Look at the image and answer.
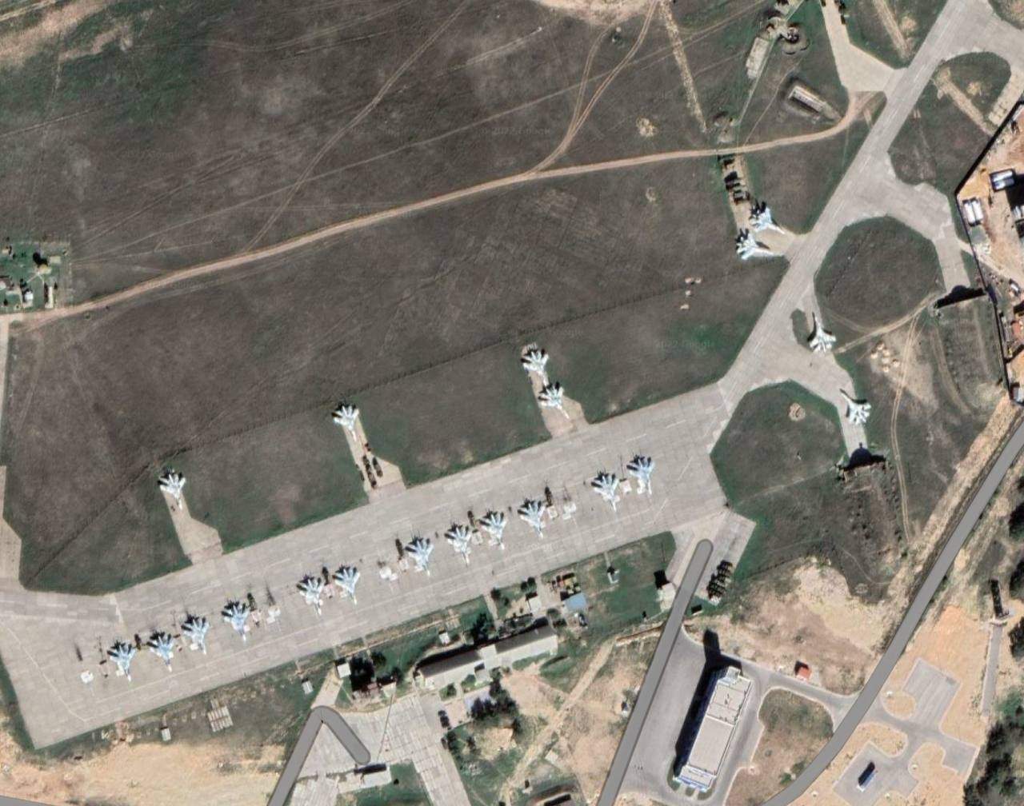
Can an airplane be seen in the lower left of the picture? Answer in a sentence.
Yes, the scene does show an airplane in the lower left of the picture.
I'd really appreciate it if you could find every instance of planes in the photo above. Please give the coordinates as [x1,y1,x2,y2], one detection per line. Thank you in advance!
[523,346,547,386]
[335,565,360,604]
[740,234,776,259]
[483,510,507,549]
[812,318,836,356]
[541,382,569,418]
[408,536,433,577]
[594,472,619,511]
[109,641,135,682]
[446,524,471,564]
[750,207,784,233]
[334,402,359,441]
[160,469,185,510]
[630,455,655,494]
[149,631,175,670]
[224,601,249,640]
[840,390,872,425]
[521,499,546,537]
[299,576,324,614]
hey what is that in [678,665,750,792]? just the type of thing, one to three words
building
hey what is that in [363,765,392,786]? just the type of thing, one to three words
building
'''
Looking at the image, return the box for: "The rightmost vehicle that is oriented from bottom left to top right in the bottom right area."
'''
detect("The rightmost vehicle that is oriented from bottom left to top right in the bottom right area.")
[859,768,875,786]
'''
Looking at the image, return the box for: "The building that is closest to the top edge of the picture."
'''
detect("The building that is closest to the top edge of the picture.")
[747,38,769,77]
